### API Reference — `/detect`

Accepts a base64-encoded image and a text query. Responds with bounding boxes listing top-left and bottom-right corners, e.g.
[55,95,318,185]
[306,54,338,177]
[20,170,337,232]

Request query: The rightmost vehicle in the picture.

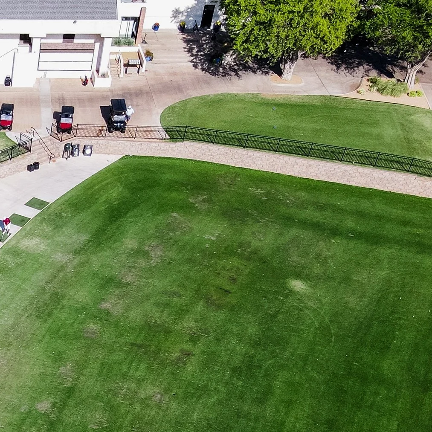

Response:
[104,97,124,127]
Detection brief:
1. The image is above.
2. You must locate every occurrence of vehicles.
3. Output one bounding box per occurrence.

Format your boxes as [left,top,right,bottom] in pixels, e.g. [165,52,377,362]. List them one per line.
[0,103,11,129]
[104,97,124,127]
[55,105,71,132]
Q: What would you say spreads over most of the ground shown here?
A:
grass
